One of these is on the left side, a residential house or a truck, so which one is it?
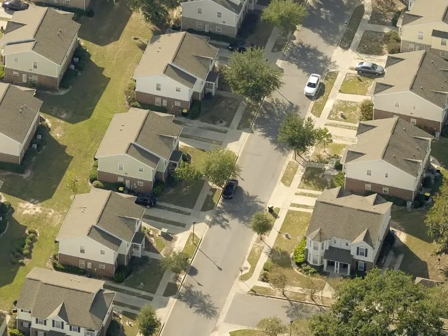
residential house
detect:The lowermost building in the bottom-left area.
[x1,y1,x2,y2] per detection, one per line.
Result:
[14,267,117,336]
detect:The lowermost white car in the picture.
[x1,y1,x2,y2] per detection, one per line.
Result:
[305,75,321,97]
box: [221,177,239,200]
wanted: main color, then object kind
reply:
black car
